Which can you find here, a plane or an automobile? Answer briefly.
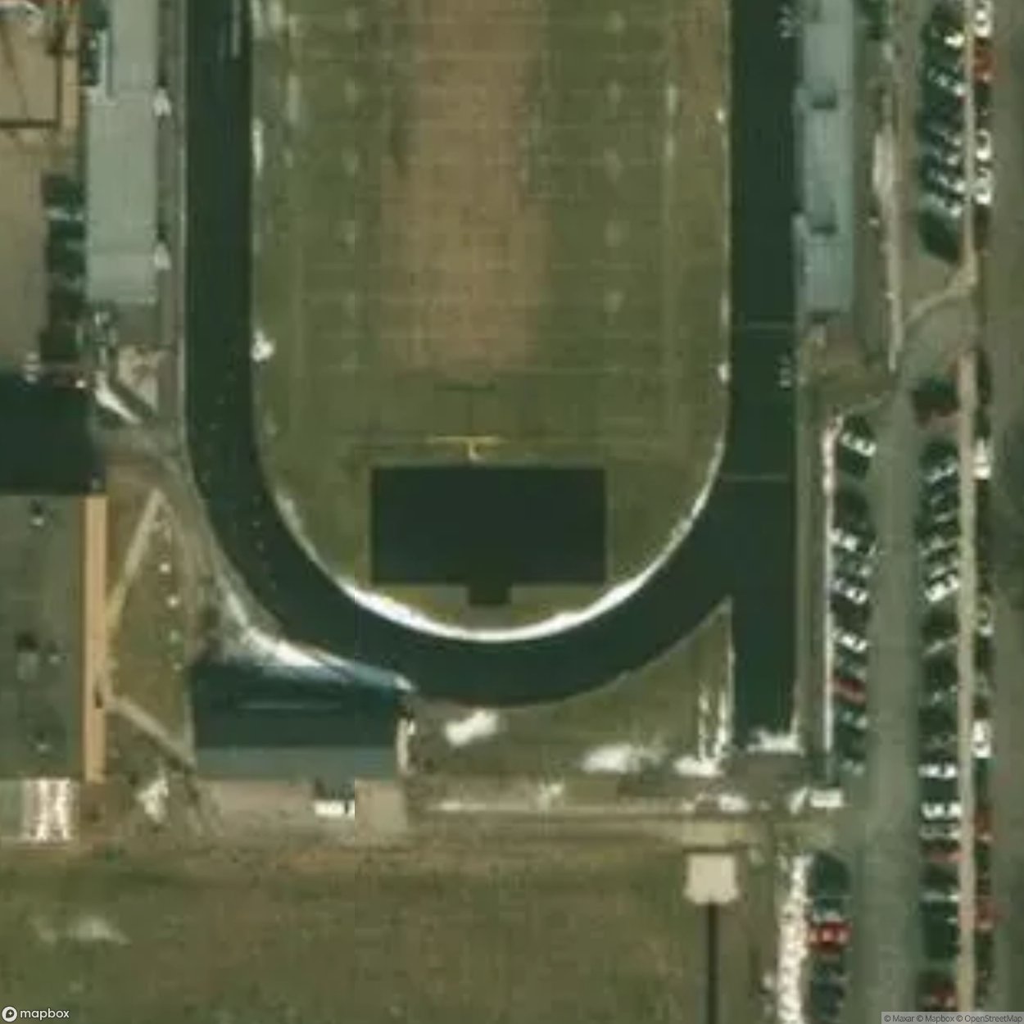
automobile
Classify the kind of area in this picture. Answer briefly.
sports ground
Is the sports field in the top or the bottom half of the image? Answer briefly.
top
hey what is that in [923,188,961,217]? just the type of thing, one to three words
car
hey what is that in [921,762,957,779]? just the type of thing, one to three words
car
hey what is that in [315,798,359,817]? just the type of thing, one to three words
vehicle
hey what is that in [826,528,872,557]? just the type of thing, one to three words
truck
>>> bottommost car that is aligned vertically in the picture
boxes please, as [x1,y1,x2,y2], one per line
[976,976,993,1015]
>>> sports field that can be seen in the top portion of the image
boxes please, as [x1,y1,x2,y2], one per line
[255,0,727,629]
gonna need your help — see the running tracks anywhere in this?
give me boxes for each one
[186,0,796,744]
